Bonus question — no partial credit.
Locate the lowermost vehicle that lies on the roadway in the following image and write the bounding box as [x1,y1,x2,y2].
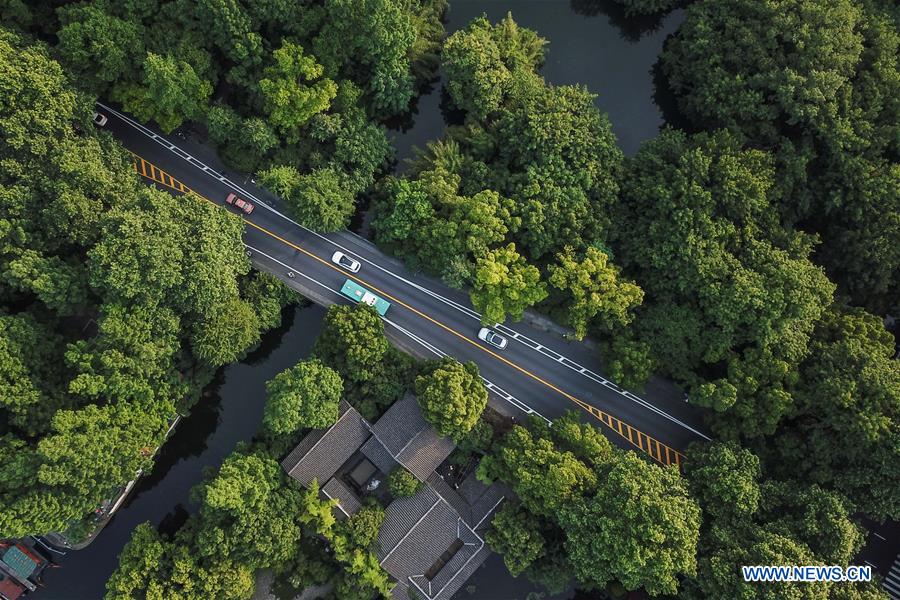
[476,328,508,351]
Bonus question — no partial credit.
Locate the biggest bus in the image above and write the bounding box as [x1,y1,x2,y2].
[342,280,391,316]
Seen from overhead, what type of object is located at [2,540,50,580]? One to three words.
boat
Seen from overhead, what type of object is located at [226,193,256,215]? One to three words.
car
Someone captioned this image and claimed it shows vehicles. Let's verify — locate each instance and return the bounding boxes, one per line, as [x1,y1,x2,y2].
[86,105,108,126]
[330,250,363,274]
[476,328,508,351]
[342,280,391,316]
[226,193,256,215]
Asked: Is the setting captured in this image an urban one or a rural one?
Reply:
rural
